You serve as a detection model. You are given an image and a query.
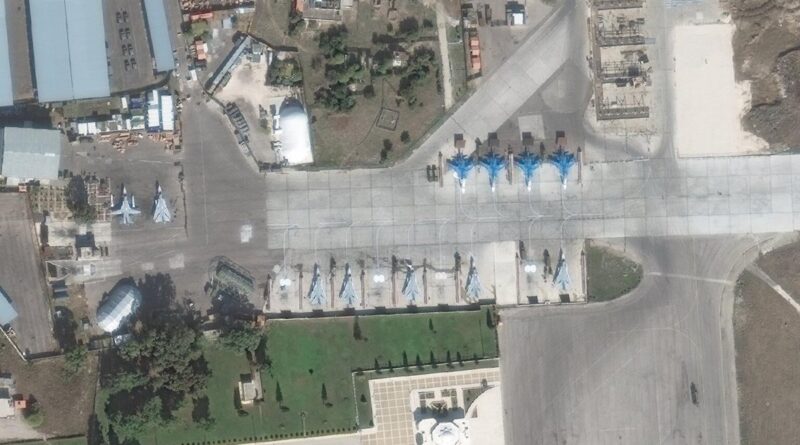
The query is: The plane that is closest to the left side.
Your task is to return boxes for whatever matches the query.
[112,184,140,223]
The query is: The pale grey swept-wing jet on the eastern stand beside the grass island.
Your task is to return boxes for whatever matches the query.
[556,253,573,290]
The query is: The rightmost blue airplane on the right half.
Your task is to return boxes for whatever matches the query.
[550,147,576,189]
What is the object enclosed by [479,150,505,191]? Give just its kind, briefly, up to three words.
airplane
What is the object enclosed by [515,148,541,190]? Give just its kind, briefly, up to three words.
airplane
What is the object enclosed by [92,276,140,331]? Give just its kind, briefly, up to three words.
hangar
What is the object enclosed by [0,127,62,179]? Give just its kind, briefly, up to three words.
hangar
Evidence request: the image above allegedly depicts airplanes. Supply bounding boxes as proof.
[448,151,474,193]
[404,264,421,303]
[155,184,172,223]
[112,184,140,223]
[311,264,329,304]
[479,150,505,191]
[342,265,359,305]
[515,148,541,190]
[556,253,573,290]
[550,147,576,189]
[468,262,485,301]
